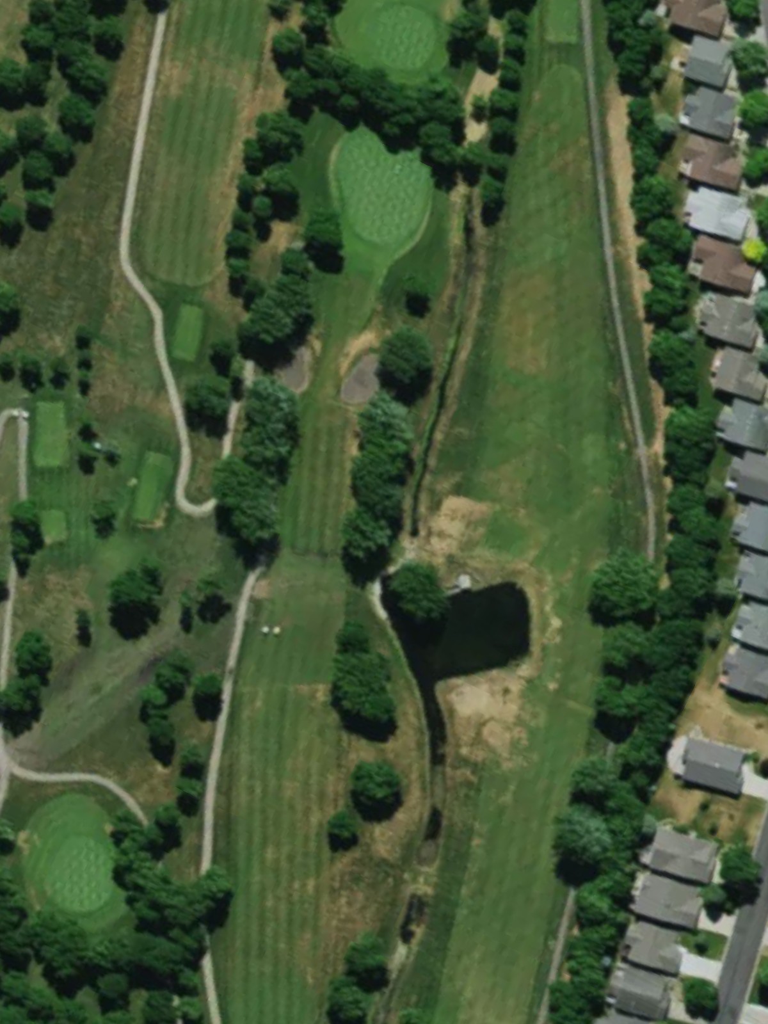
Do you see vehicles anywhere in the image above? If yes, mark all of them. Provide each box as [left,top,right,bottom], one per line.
[11,410,19,415]
[22,411,30,417]
[94,442,102,449]
[262,627,270,632]
[274,626,279,634]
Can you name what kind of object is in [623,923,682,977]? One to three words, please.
house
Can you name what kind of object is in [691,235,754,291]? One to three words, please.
house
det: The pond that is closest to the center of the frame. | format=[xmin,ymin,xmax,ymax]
[381,565,531,768]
